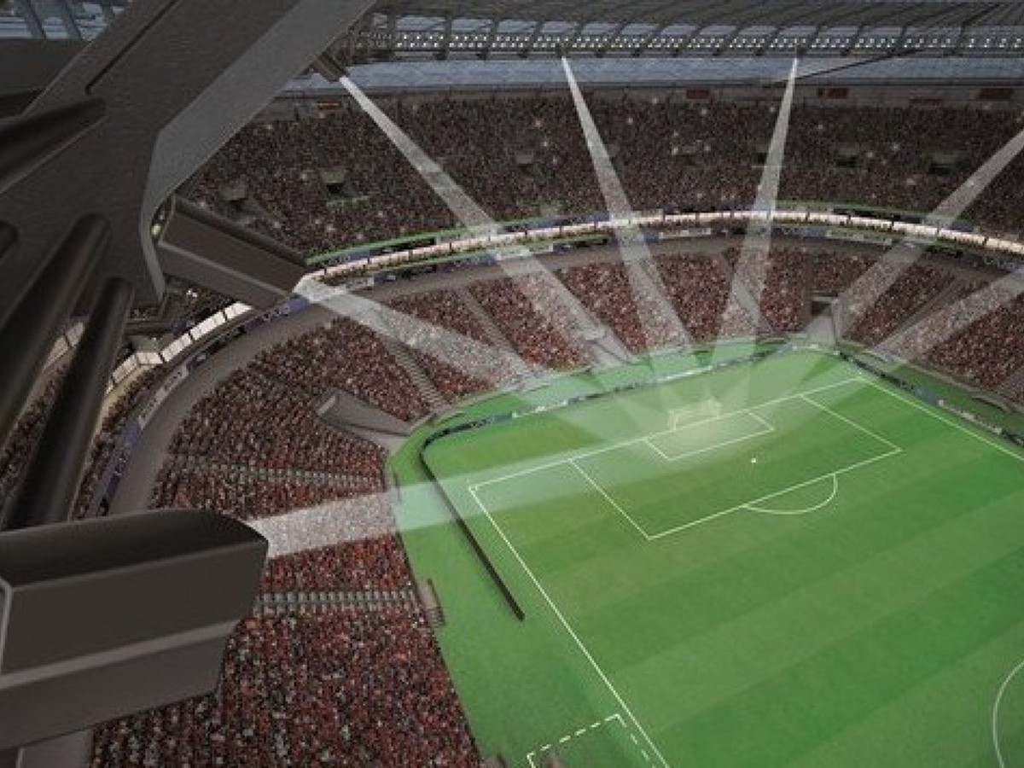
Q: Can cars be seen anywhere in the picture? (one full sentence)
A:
No, there is no car in the image.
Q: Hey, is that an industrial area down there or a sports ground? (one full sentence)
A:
This image shows a sports ground.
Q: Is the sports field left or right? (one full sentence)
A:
The sports field sits on the right side.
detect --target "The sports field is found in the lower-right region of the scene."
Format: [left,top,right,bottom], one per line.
[470,376,1024,768]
